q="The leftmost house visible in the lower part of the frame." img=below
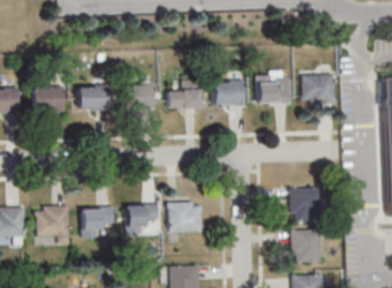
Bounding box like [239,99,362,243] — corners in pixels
[0,206,26,246]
